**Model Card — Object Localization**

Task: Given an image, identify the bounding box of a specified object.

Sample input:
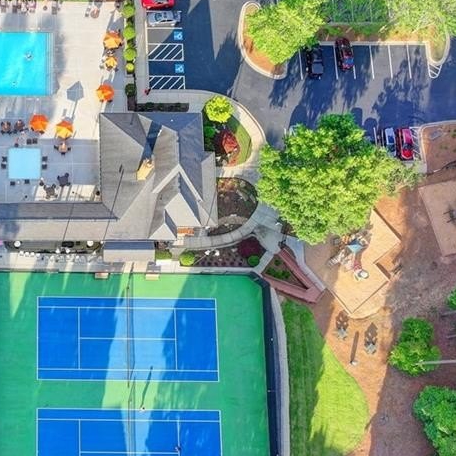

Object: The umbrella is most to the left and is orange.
[31,115,48,132]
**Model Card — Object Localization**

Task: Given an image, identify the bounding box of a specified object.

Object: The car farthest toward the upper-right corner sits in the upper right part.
[334,39,354,71]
